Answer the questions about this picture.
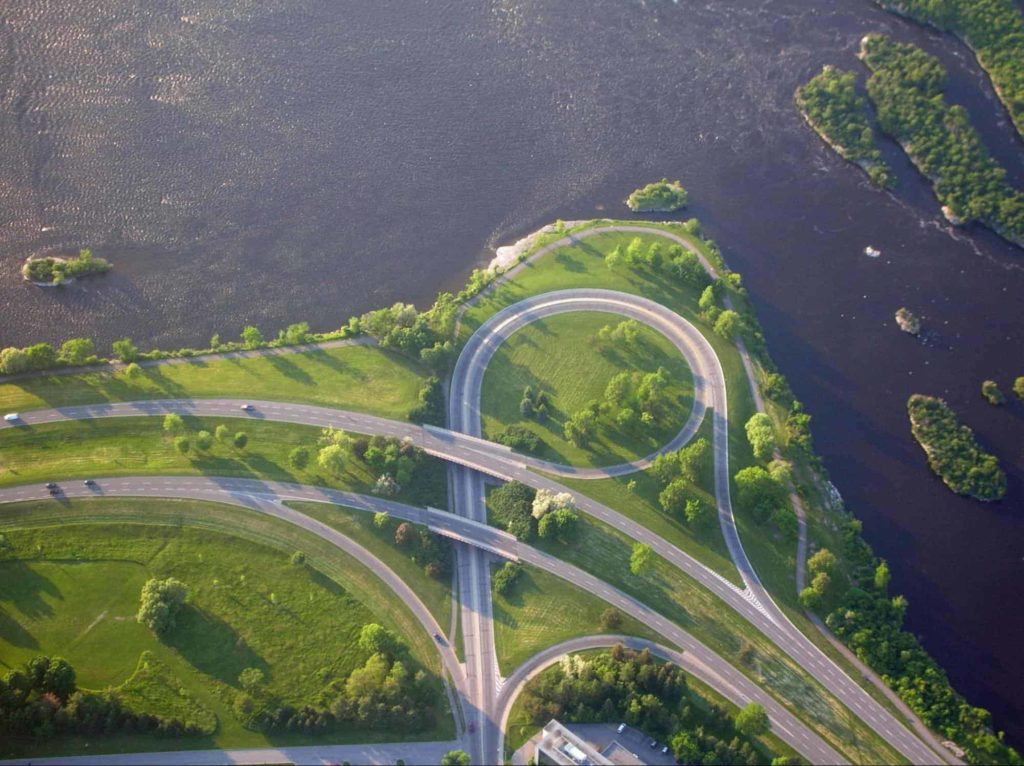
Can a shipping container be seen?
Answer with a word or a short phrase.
No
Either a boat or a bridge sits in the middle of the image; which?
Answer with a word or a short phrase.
bridge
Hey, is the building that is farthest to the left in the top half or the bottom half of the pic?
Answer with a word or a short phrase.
bottom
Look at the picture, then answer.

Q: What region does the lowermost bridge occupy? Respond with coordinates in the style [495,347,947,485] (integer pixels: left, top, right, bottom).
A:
[426,504,519,562]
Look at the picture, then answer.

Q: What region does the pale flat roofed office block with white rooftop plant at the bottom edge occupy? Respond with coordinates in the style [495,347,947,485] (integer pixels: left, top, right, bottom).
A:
[537,718,617,766]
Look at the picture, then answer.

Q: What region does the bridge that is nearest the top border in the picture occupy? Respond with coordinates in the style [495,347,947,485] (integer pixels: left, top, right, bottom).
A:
[422,422,514,480]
